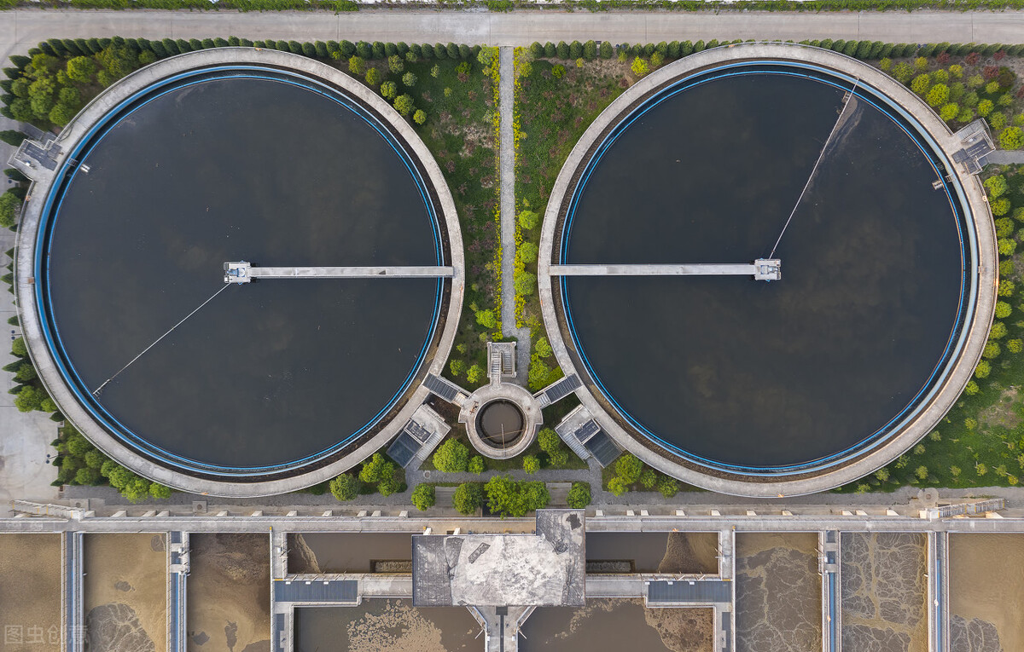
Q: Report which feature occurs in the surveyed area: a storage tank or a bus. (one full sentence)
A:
There is a storage tank in the scene.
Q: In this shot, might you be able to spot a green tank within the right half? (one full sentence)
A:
No, within the right half there is no green tank.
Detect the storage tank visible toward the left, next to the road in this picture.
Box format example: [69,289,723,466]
[16,48,466,496]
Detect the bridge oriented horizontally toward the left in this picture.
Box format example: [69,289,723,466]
[253,266,454,278]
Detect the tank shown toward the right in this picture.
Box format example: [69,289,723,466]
[537,41,996,499]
